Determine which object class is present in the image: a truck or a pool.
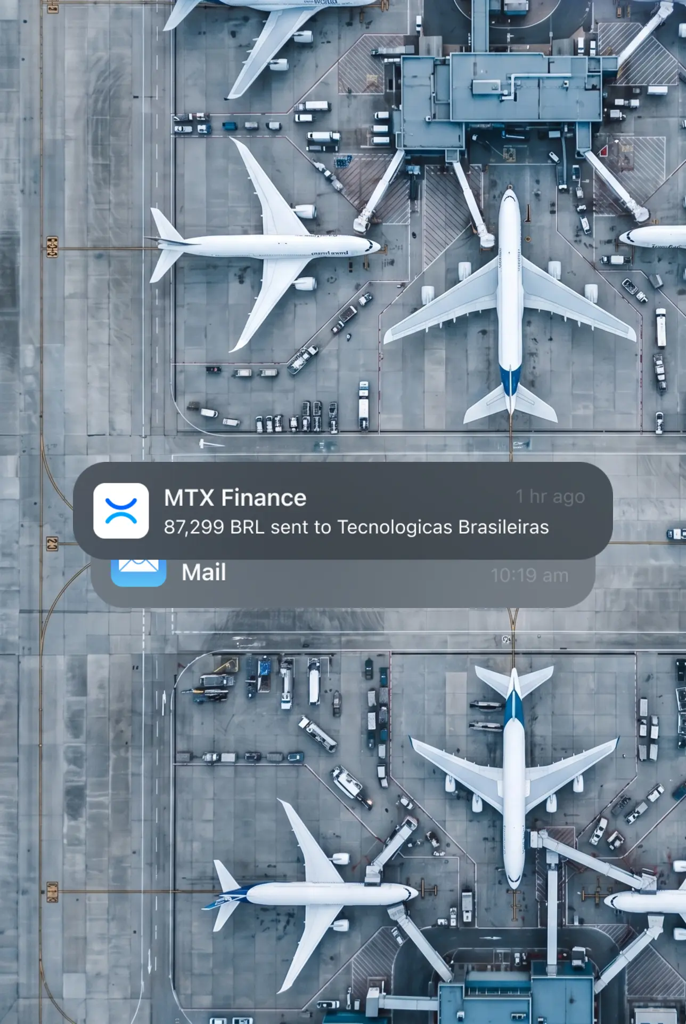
truck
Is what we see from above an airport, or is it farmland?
airport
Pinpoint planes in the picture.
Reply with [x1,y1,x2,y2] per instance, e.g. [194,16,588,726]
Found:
[384,191,637,422]
[407,667,624,889]
[162,0,384,101]
[147,139,380,353]
[203,797,418,992]
[604,862,686,941]
[619,226,686,248]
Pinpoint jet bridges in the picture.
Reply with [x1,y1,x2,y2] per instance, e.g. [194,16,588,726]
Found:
[452,162,495,249]
[595,913,664,990]
[581,149,650,224]
[525,827,657,892]
[619,2,674,67]
[542,850,562,969]
[366,814,418,885]
[366,982,439,1017]
[355,148,405,232]
[388,902,451,979]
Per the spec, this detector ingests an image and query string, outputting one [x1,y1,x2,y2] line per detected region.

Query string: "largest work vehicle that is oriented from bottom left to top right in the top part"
[286,344,320,375]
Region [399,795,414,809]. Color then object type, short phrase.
white car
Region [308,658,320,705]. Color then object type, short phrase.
white vehicle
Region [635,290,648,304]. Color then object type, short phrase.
white vehicle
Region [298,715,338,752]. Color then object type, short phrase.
white truck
